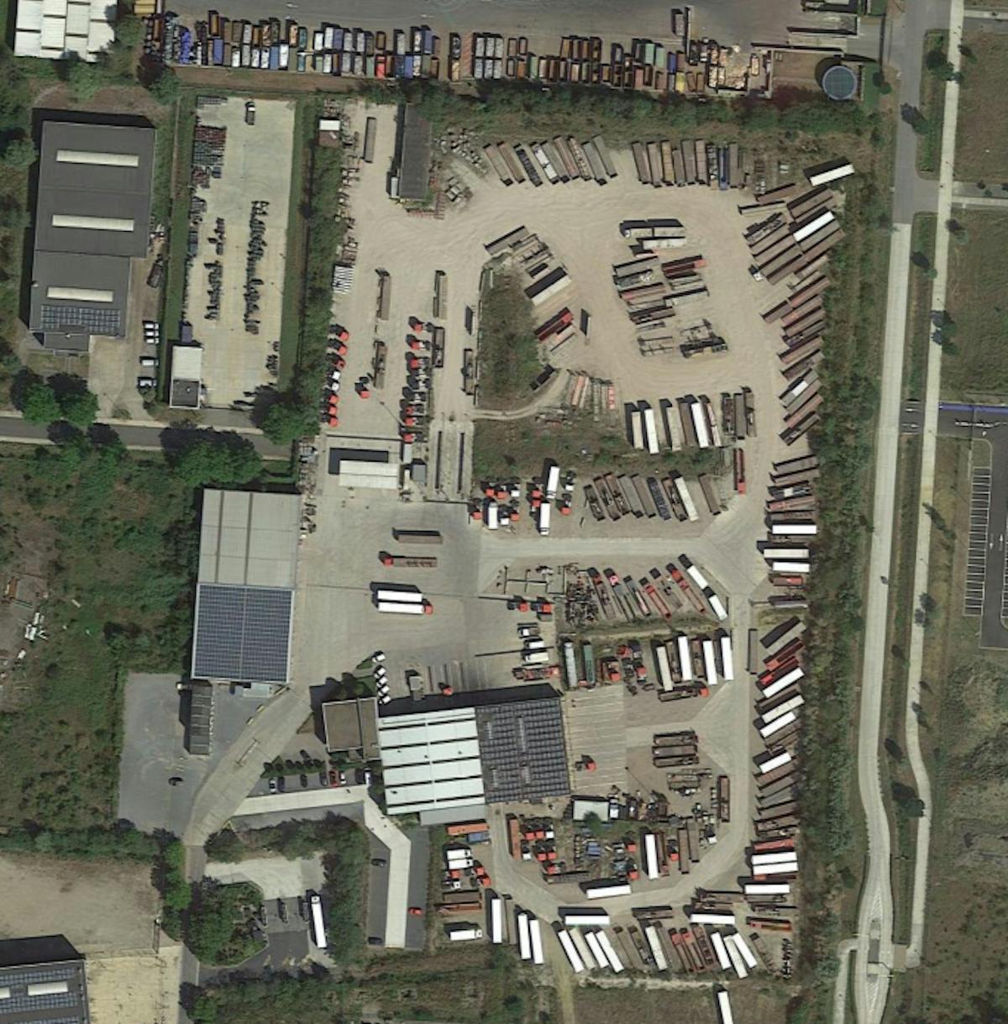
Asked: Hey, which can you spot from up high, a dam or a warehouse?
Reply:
warehouse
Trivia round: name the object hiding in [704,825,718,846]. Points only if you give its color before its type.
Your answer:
white vehicle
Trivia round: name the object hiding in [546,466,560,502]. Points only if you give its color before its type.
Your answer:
white vehicle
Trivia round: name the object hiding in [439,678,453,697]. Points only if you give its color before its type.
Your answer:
red vehicle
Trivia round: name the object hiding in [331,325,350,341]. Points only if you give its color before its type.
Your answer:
red vehicle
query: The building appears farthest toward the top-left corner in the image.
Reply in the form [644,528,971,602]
[13,0,116,57]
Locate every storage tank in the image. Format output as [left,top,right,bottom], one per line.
[823,64,858,100]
